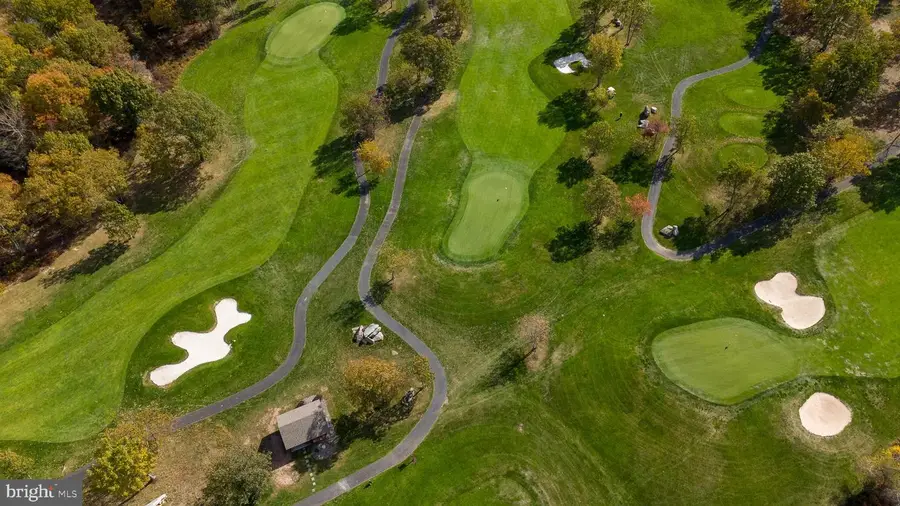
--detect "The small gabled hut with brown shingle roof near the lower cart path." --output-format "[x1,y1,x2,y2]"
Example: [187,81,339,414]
[277,399,343,456]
